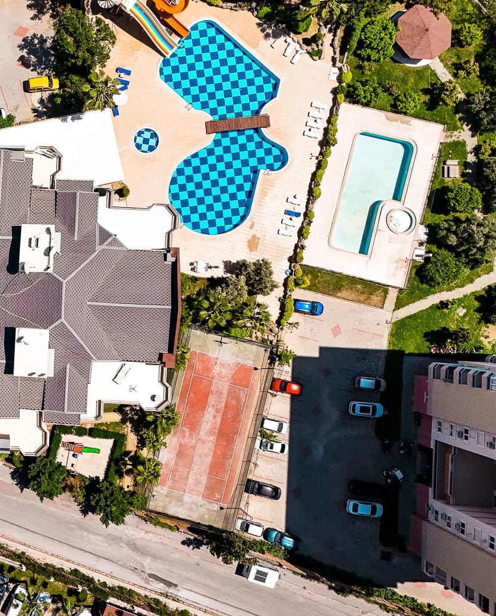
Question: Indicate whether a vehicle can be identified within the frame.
Yes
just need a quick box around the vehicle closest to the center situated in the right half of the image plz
[296,301,322,315]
